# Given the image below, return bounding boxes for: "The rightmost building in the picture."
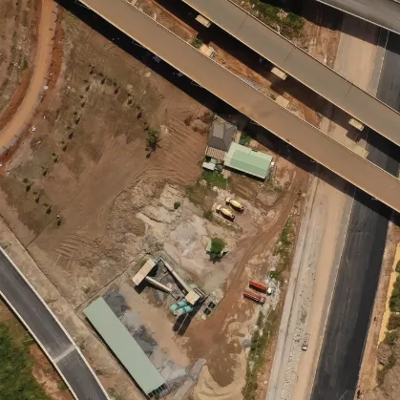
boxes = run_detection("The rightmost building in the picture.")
[225,142,275,178]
